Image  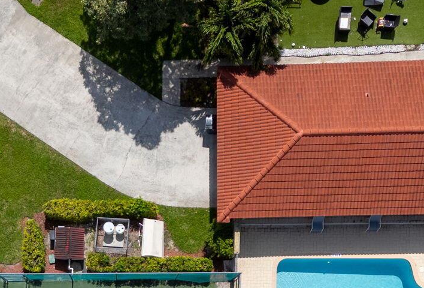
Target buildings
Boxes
[216,60,424,224]
[55,227,85,277]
